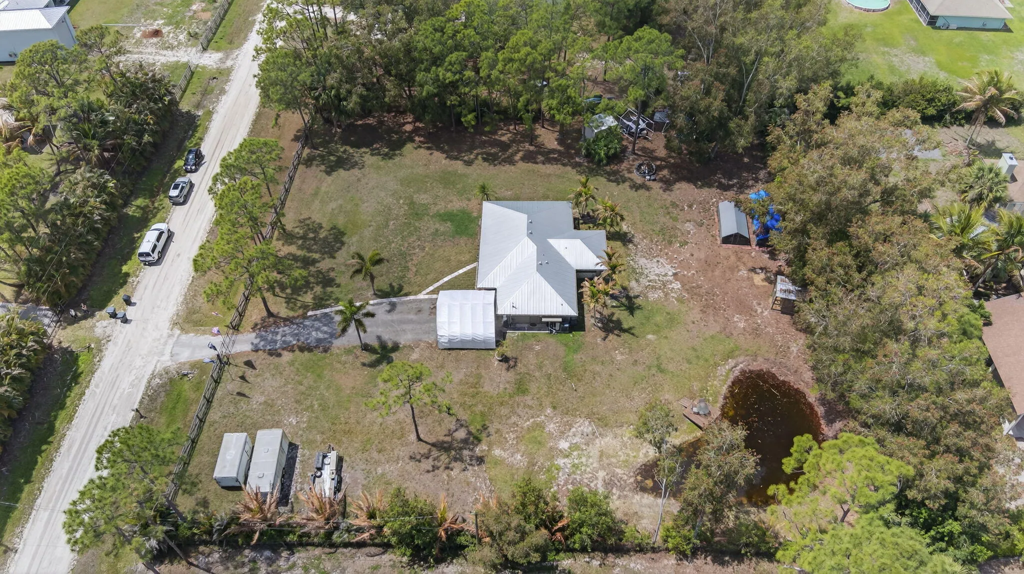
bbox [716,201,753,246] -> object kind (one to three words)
building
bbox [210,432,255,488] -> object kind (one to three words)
trailer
